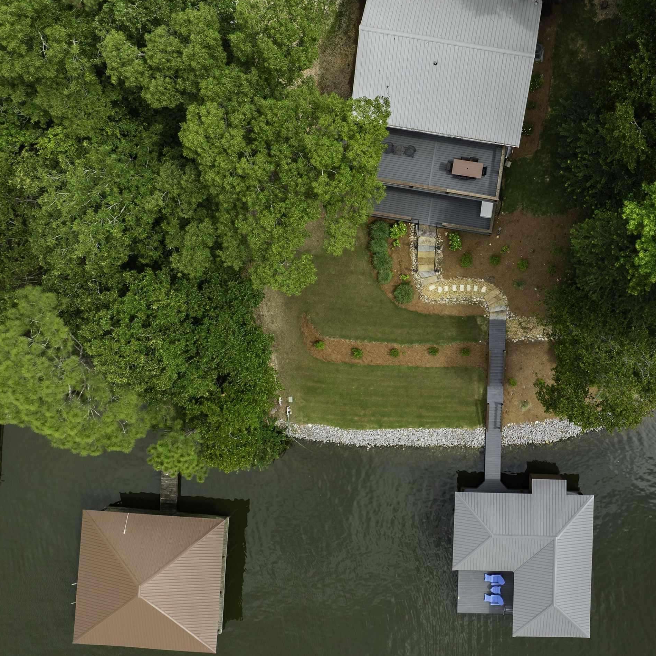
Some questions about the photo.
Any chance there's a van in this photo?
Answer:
No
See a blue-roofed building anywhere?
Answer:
No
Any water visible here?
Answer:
Yes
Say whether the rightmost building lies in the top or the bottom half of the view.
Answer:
bottom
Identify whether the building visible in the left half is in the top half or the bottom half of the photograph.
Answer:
bottom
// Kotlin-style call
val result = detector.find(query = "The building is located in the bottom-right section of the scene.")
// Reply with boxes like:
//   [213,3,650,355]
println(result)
[451,465,595,639]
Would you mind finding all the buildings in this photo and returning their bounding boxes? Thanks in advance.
[351,0,543,168]
[451,465,595,639]
[72,506,230,656]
